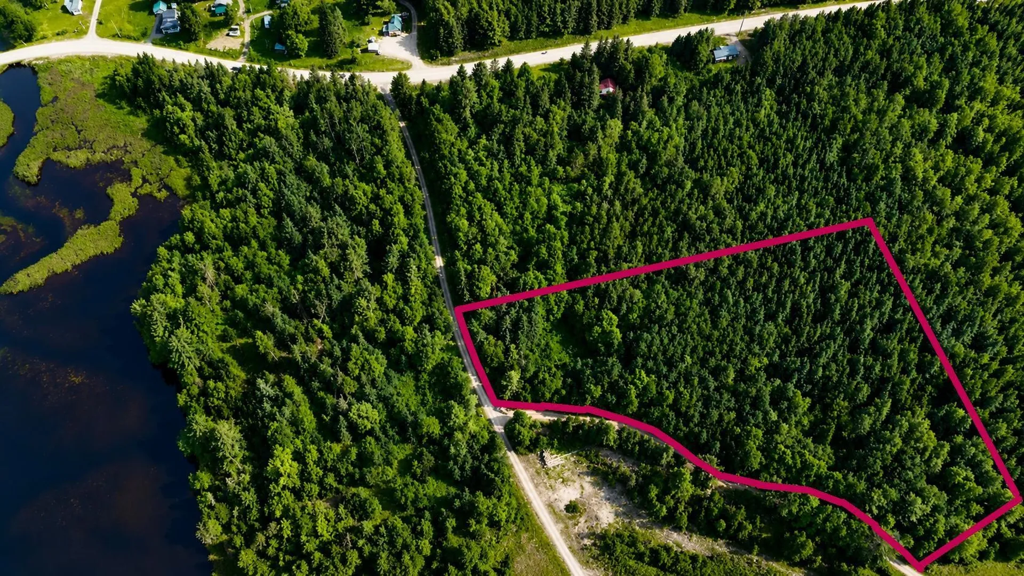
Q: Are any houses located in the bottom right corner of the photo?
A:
No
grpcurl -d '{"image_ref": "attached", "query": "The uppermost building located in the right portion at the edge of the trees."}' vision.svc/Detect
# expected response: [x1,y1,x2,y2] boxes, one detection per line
[709,45,741,62]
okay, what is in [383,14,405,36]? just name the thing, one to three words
house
